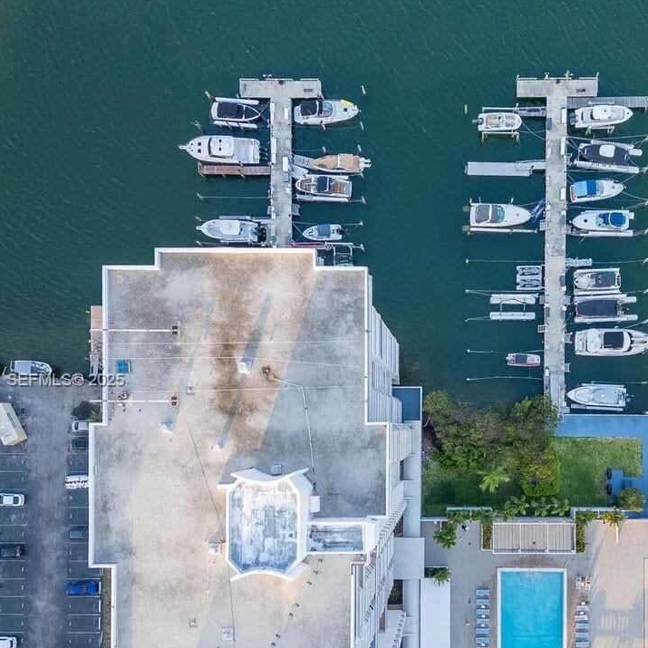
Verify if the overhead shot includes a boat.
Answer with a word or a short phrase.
Yes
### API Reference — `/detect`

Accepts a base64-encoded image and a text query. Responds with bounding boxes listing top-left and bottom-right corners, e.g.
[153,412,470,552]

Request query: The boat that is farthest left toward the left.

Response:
[12,358,55,376]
